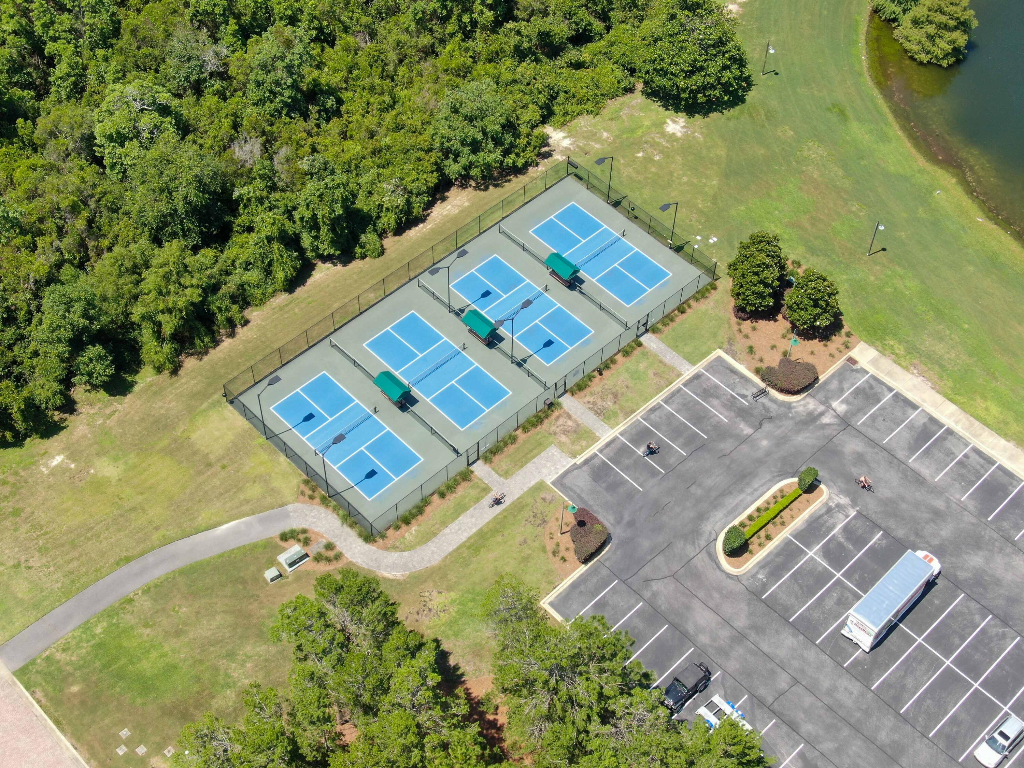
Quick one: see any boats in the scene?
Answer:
No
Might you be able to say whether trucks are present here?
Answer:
Yes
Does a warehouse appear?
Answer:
No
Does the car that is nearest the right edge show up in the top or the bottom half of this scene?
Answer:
bottom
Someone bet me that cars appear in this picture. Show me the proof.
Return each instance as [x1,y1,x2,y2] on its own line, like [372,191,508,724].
[661,660,708,709]
[976,711,1024,766]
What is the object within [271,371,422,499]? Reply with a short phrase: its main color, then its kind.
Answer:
blue sports court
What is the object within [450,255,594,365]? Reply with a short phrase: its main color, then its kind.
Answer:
blue sports court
